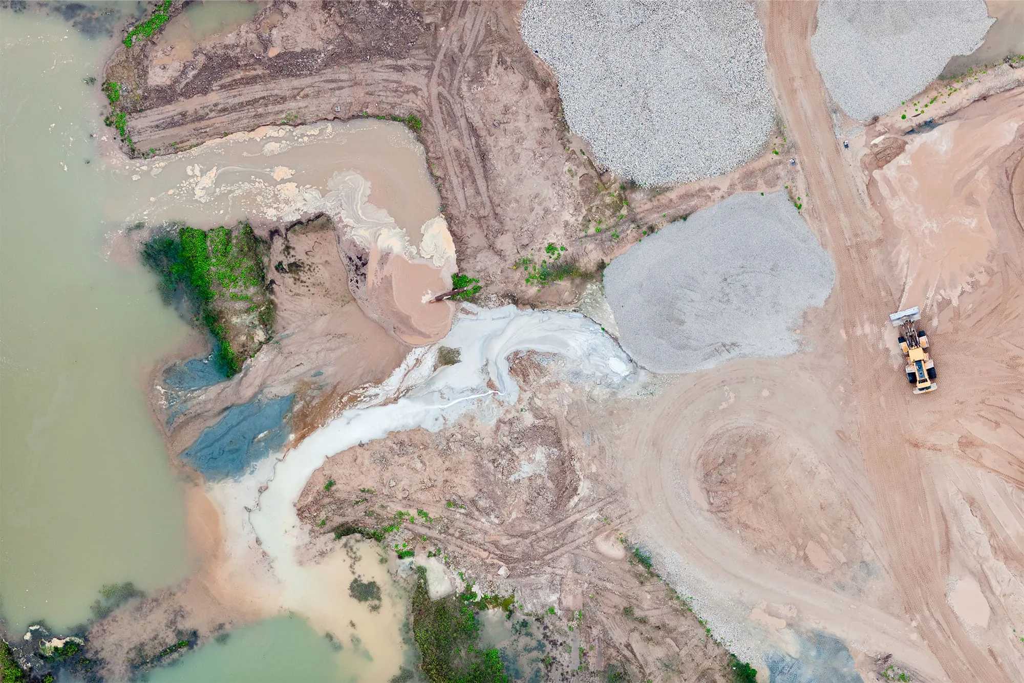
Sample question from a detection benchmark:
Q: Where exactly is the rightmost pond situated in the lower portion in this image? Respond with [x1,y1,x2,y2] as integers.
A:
[478,604,563,683]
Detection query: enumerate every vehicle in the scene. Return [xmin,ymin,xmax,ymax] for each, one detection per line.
[889,305,939,394]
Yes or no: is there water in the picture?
Yes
